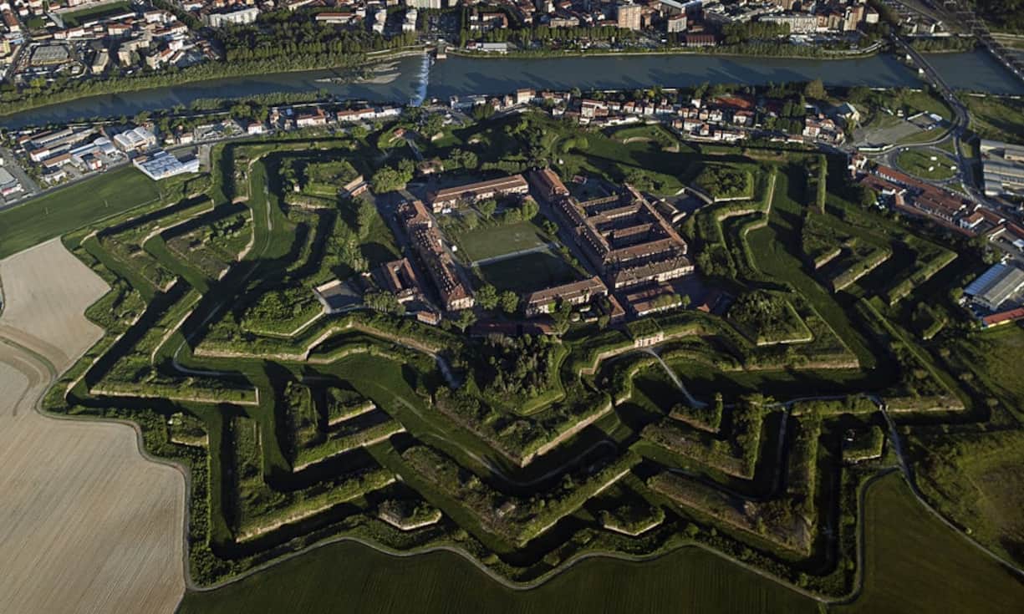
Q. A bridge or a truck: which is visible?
bridge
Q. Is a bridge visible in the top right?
Yes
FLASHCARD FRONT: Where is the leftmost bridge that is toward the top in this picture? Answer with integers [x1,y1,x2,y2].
[881,29,951,95]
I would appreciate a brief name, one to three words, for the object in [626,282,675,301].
shed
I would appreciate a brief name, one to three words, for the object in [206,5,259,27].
building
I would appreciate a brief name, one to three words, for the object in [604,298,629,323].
shed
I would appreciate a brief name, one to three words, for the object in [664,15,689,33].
building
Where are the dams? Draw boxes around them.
[405,57,432,107]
